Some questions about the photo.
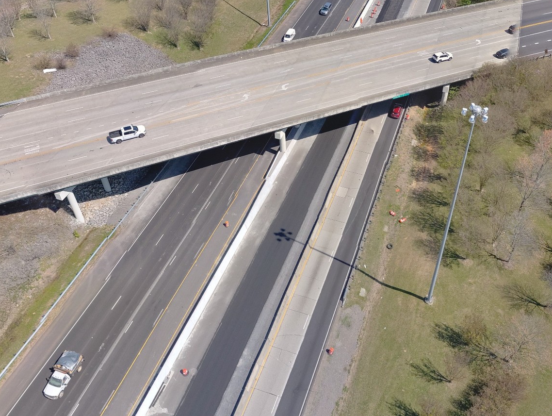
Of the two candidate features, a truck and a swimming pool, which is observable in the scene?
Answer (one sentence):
The image shows a truck.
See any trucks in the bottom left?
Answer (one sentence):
Yes, the scene does show a truck in the bottom left.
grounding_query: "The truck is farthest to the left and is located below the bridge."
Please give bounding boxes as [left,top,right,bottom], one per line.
[38,343,84,404]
